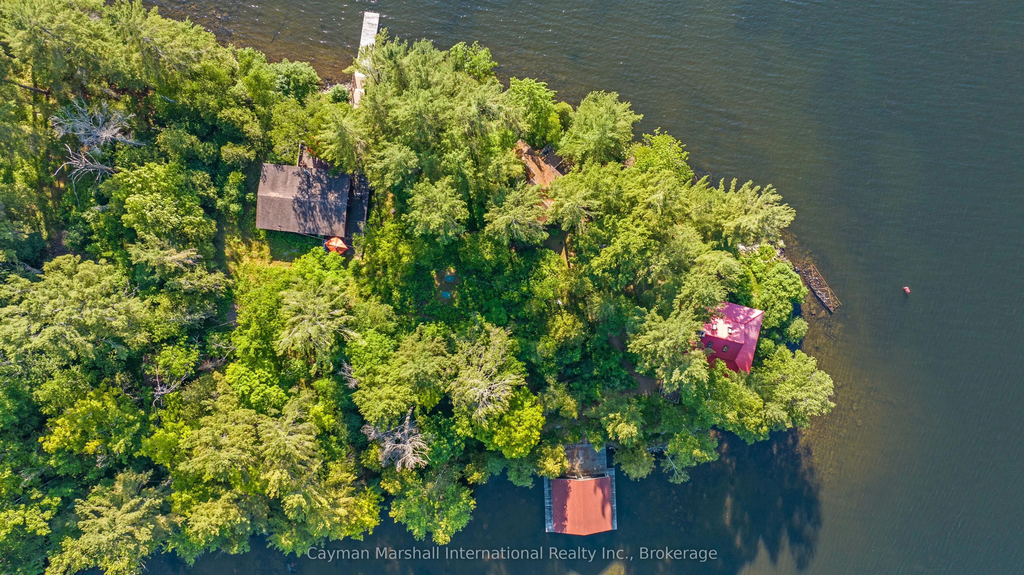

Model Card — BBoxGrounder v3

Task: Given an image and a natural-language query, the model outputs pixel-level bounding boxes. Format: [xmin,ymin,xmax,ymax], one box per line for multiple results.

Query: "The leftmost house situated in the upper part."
[256,163,352,237]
